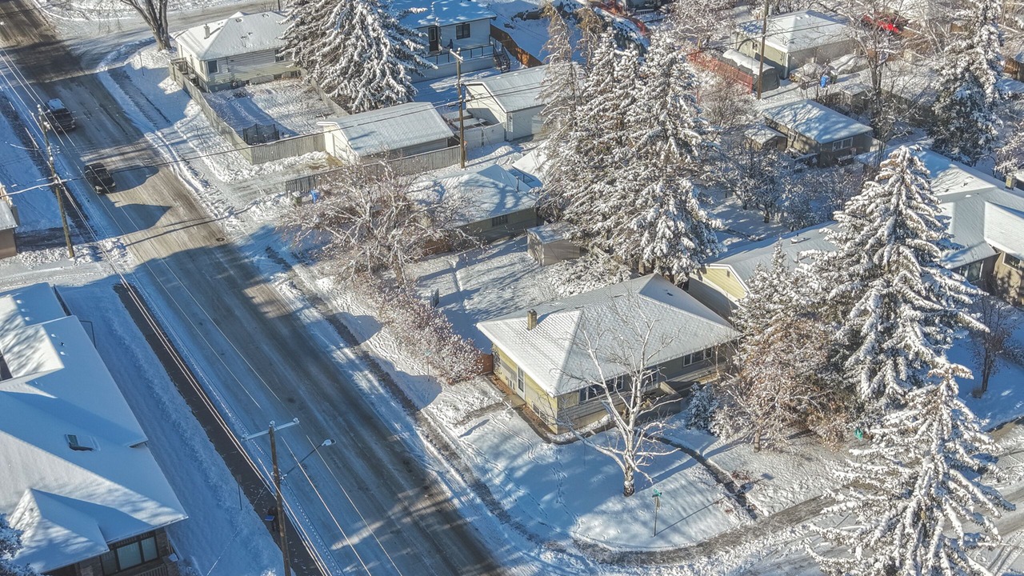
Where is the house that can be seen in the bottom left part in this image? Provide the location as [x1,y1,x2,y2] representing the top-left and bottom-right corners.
[0,278,194,576]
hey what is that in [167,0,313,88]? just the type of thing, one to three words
house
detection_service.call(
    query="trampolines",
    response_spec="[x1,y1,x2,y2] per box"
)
[241,111,279,145]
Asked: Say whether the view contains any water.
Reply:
No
